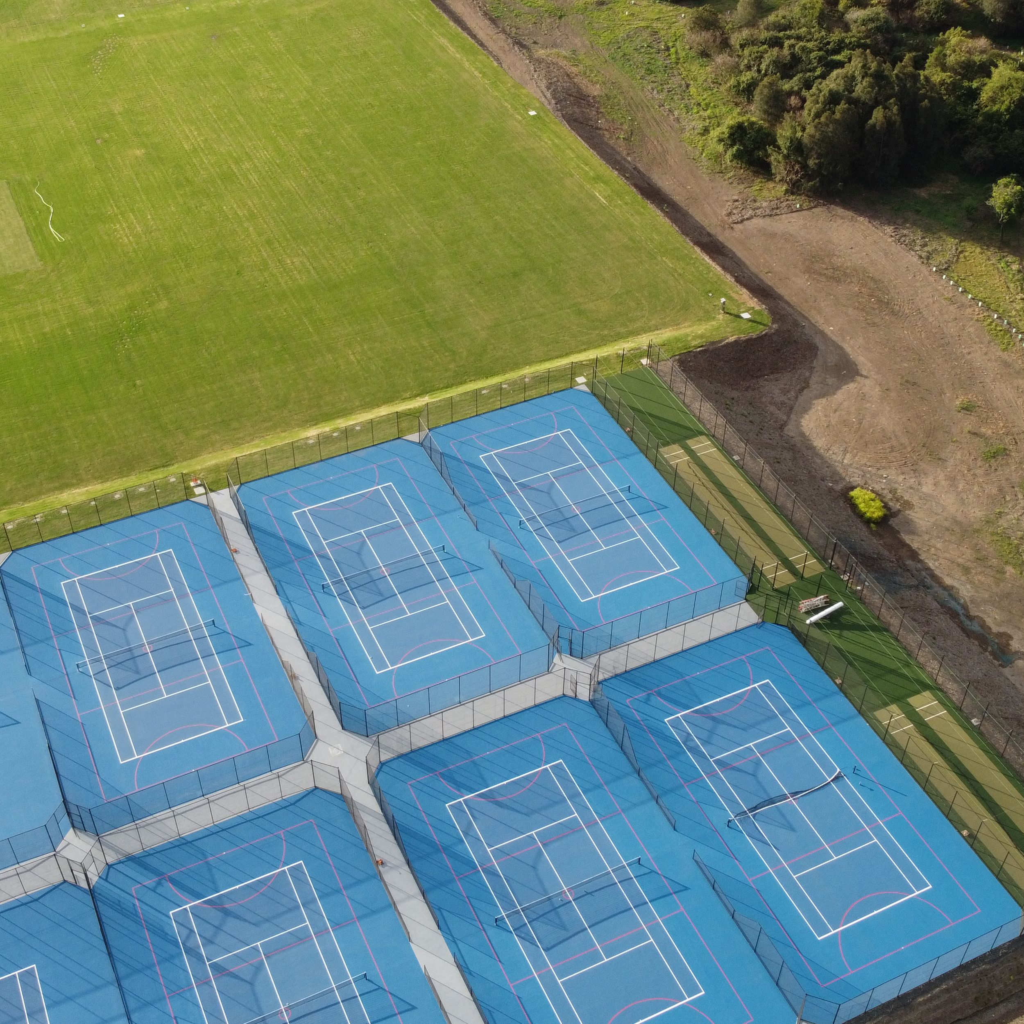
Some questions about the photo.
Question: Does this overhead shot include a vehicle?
No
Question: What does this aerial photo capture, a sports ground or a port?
sports ground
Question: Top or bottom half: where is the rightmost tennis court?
bottom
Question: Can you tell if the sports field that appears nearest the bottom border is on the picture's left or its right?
right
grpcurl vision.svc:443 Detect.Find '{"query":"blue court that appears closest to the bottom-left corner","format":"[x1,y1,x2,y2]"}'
[0,879,129,1024]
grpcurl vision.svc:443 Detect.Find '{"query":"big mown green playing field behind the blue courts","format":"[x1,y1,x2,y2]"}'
[0,0,771,553]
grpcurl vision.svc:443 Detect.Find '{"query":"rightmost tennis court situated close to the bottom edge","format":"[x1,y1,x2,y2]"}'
[590,621,1022,1024]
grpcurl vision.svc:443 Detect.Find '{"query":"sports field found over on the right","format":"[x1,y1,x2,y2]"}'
[589,365,1024,908]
